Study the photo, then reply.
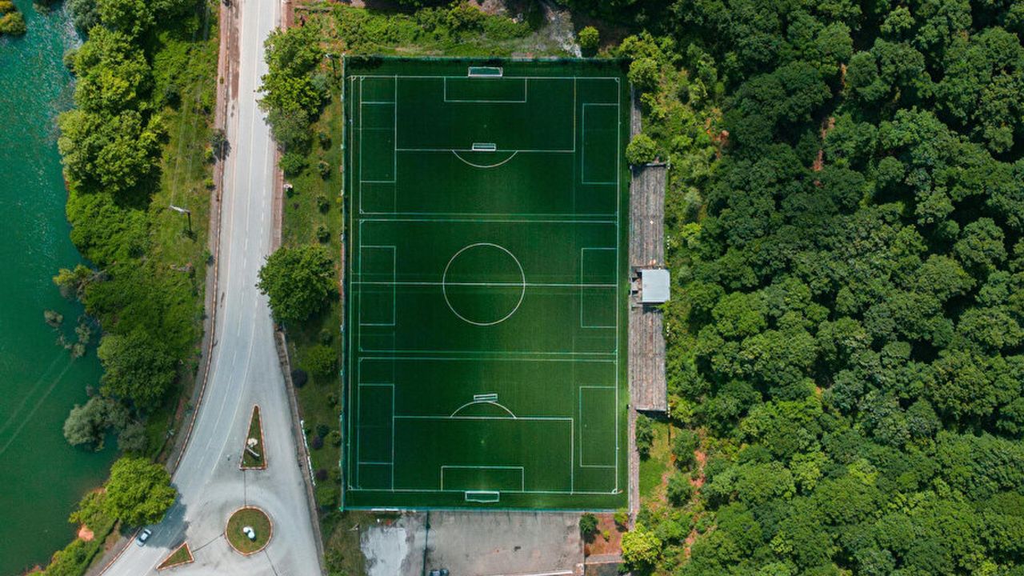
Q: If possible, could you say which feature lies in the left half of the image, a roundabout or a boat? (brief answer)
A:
roundabout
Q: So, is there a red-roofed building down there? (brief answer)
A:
No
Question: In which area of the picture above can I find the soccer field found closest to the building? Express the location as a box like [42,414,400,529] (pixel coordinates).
[345,62,630,510]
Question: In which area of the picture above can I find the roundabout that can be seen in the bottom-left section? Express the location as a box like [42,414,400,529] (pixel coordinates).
[224,506,273,555]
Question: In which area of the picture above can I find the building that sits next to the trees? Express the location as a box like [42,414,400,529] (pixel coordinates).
[632,269,671,302]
